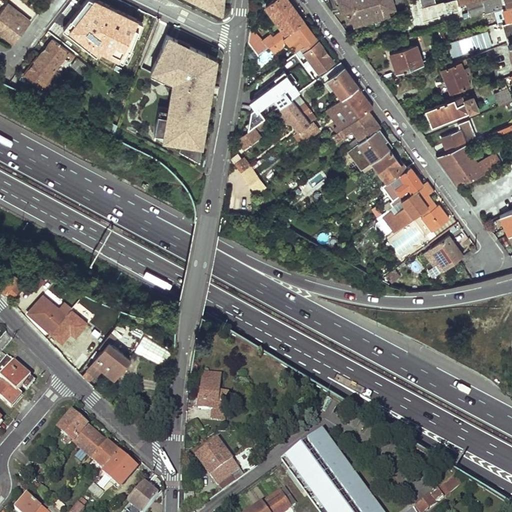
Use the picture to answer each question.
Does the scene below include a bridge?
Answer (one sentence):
Yes, a bridge can be made out from above.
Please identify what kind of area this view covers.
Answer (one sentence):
This looks like a residential area.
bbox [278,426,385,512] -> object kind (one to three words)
building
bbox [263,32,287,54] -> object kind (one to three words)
house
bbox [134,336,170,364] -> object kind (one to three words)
greenhouse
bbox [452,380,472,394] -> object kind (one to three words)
vehicle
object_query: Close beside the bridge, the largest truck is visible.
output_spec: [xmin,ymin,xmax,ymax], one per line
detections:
[139,269,176,294]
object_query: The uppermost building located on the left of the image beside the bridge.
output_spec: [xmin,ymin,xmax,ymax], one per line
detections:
[151,40,219,165]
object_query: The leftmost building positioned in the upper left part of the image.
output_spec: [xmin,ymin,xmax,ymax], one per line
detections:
[0,2,32,47]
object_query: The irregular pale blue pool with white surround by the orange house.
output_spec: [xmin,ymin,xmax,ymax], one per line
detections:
[257,52,273,68]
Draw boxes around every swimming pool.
[309,172,325,188]
[409,260,424,274]
[317,232,330,244]
[257,52,273,68]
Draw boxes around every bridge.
[172,210,224,322]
